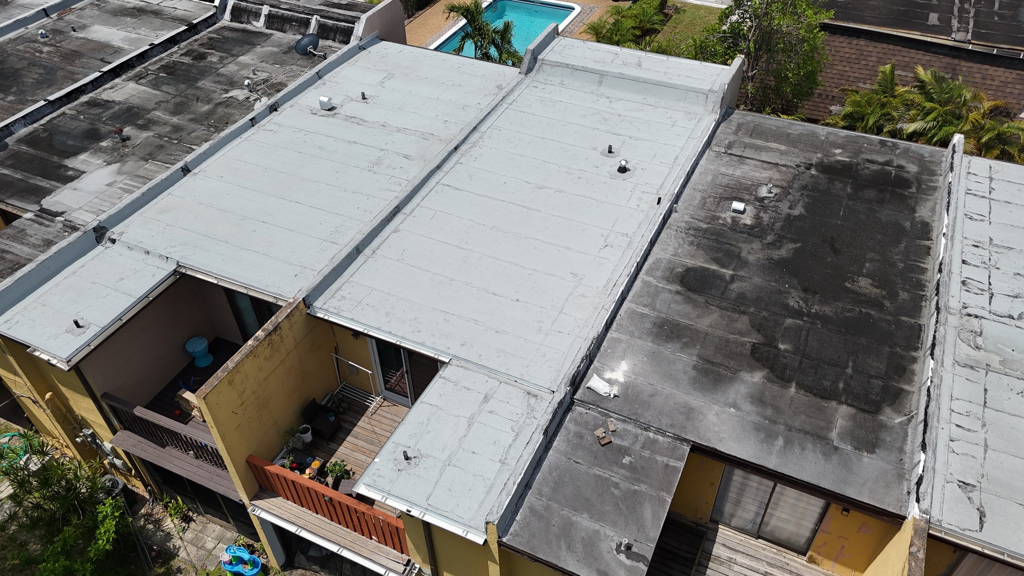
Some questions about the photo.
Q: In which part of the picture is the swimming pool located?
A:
top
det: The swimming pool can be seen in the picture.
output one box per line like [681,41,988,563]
[430,0,581,65]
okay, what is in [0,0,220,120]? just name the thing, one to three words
house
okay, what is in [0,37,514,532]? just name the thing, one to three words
house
